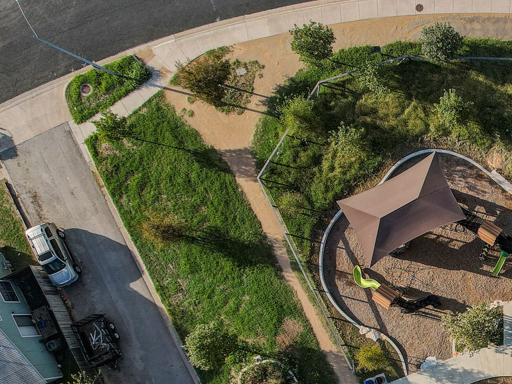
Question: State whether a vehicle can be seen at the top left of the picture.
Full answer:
No, the scene shows no vehicle at the top left of the picture.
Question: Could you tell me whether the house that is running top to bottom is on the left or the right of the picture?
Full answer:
The house that is running top to bottom is on the left side of the image.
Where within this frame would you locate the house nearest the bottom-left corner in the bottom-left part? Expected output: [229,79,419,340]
[0,241,63,384]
